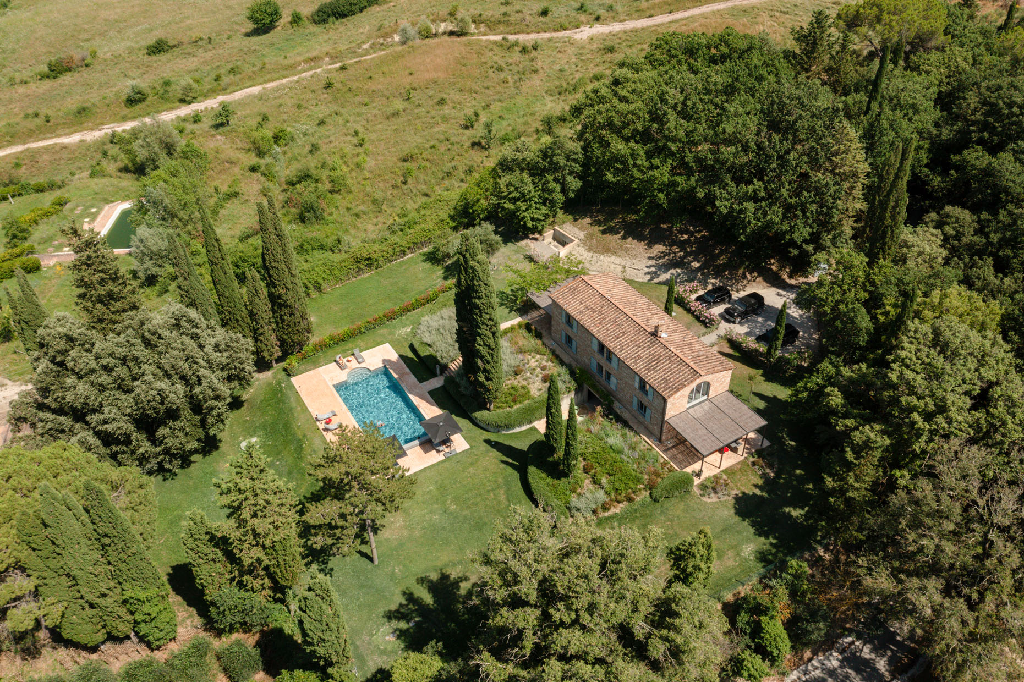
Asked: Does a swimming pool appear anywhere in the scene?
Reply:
Yes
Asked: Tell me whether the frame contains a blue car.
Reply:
No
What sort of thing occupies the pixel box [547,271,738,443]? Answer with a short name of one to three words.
house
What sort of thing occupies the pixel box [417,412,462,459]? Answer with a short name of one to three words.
umbrella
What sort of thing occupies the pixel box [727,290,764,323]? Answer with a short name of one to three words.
car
